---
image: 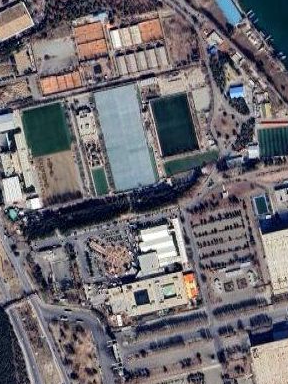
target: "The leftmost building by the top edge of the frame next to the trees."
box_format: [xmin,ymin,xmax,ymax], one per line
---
[0,4,34,42]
